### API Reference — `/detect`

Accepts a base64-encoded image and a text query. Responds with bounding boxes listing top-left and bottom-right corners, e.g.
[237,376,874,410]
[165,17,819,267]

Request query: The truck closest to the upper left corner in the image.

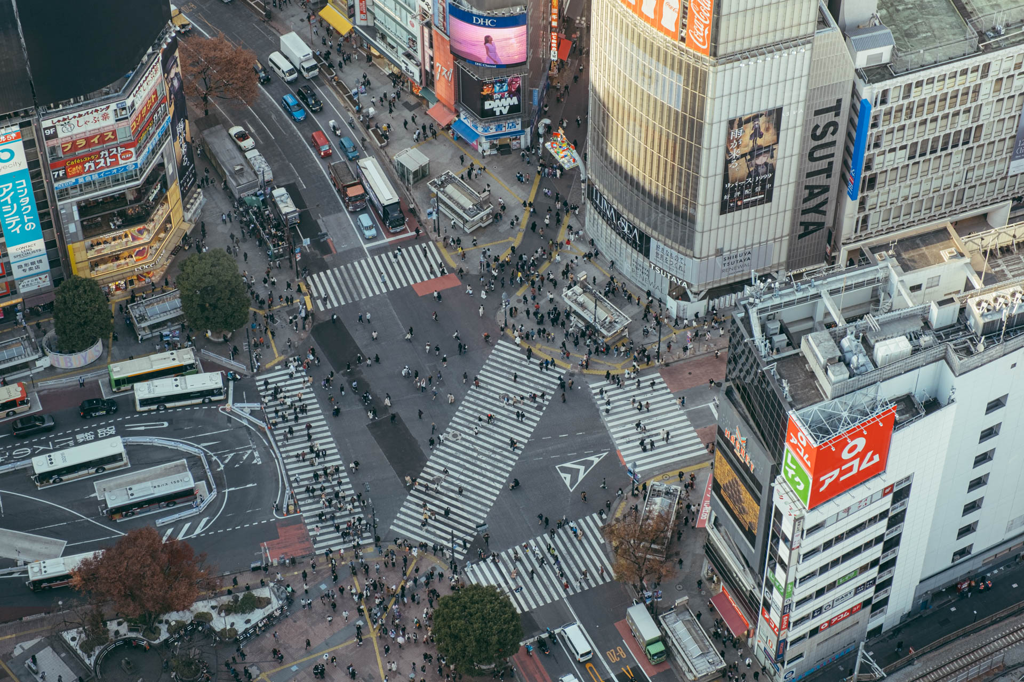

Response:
[168,0,193,29]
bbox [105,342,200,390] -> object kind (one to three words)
bus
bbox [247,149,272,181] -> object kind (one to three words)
truck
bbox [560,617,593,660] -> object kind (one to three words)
van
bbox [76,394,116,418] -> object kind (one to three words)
car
